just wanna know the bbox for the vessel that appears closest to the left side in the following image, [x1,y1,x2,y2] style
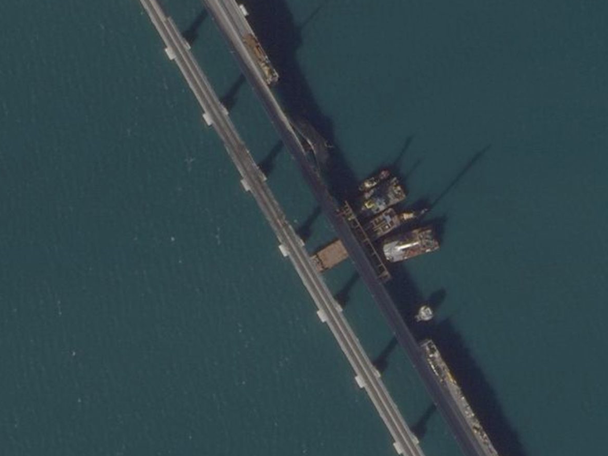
[311,239,348,272]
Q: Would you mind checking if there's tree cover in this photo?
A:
No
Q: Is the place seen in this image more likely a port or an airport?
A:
port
